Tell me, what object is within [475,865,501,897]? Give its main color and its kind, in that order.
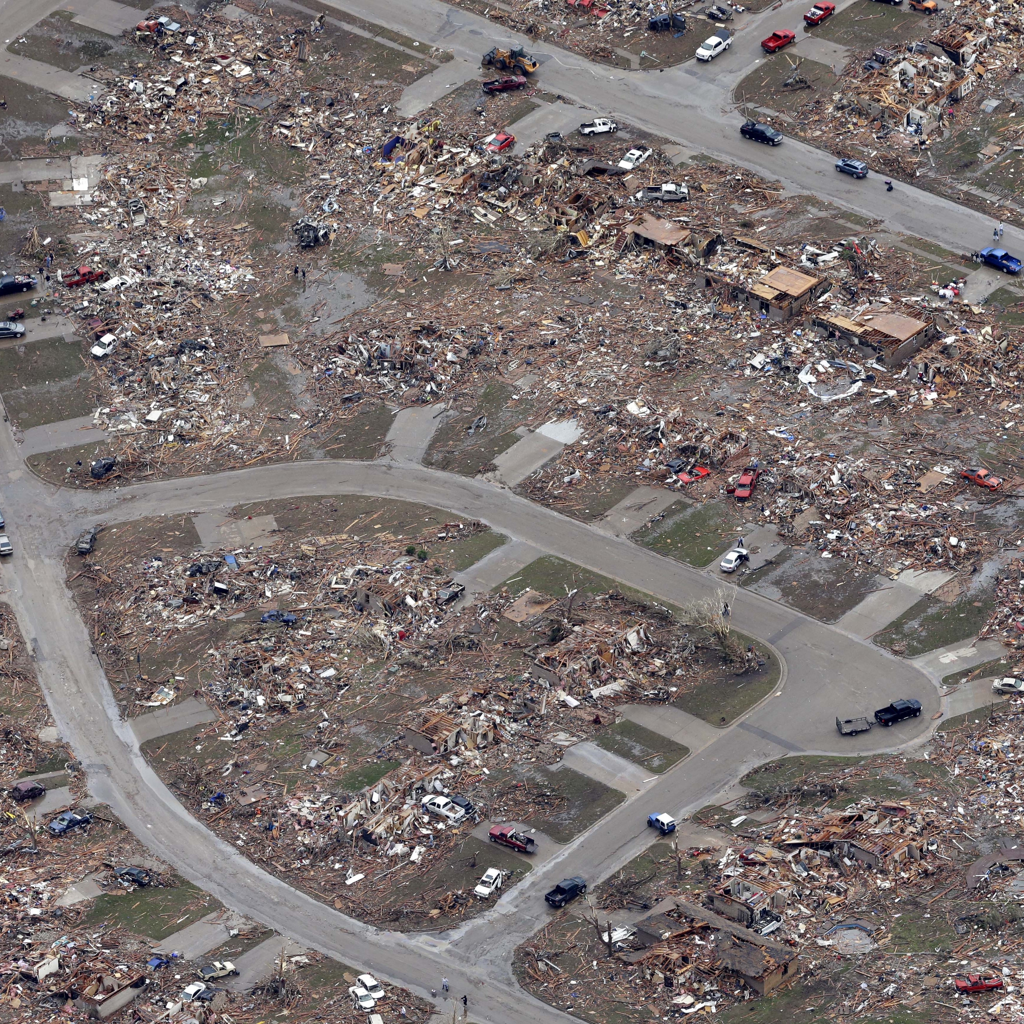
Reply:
white car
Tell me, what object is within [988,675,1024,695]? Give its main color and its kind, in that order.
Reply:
gray car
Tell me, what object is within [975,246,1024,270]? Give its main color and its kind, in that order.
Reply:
blue truck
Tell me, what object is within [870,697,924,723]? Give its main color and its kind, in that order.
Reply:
black truck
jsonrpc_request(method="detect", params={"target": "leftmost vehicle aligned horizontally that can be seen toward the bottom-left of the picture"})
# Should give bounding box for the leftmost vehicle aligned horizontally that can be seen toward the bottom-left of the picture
[6,778,50,800]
